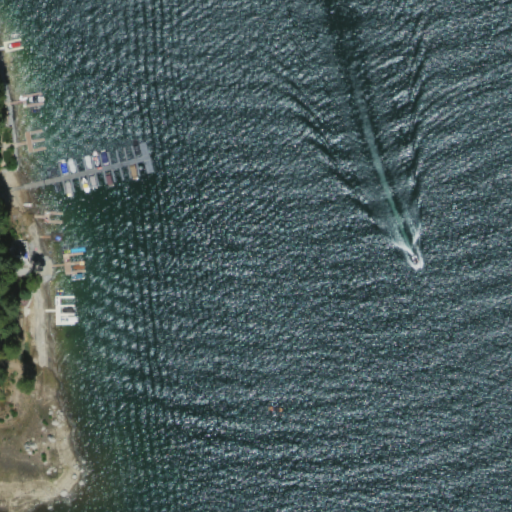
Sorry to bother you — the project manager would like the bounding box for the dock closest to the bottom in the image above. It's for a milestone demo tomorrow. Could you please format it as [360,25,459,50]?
[44,296,78,326]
